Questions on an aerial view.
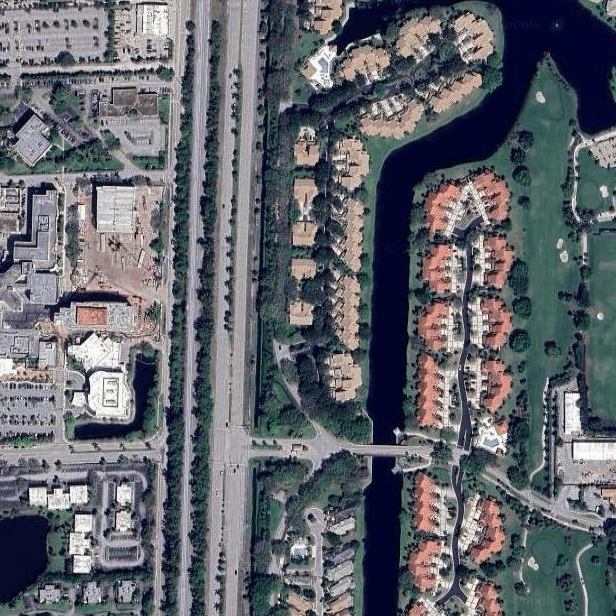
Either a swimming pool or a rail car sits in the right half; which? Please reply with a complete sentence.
What appears in the right half is a swimming pool.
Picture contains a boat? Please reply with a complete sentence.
No, there is no boat in the image.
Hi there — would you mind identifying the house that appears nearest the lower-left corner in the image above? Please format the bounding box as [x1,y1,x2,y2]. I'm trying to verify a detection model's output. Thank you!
[41,585,62,604]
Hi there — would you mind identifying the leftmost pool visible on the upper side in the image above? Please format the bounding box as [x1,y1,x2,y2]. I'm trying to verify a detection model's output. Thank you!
[309,46,337,86]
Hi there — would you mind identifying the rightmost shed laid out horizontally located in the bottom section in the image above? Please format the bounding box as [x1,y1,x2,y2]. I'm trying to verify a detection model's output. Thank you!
[574,442,616,461]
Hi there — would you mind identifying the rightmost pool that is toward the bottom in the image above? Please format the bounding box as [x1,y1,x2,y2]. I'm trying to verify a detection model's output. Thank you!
[476,417,507,451]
